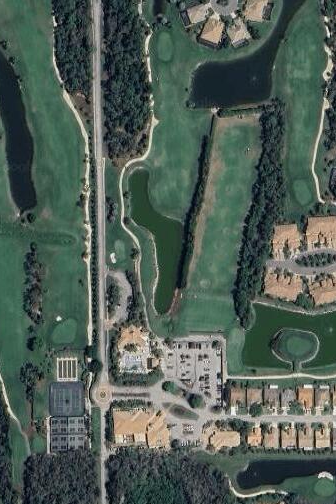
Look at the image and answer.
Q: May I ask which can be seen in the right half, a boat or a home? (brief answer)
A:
home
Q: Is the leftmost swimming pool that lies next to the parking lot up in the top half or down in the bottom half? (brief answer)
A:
bottom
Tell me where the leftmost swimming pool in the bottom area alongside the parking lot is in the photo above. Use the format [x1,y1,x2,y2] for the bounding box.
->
[120,348,149,373]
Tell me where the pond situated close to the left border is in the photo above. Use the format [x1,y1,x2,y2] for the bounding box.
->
[0,51,37,213]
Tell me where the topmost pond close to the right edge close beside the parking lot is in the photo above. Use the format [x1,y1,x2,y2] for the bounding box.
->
[242,304,336,368]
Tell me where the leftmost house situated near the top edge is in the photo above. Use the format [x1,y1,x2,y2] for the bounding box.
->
[184,3,211,23]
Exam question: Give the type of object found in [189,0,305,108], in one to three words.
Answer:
pond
